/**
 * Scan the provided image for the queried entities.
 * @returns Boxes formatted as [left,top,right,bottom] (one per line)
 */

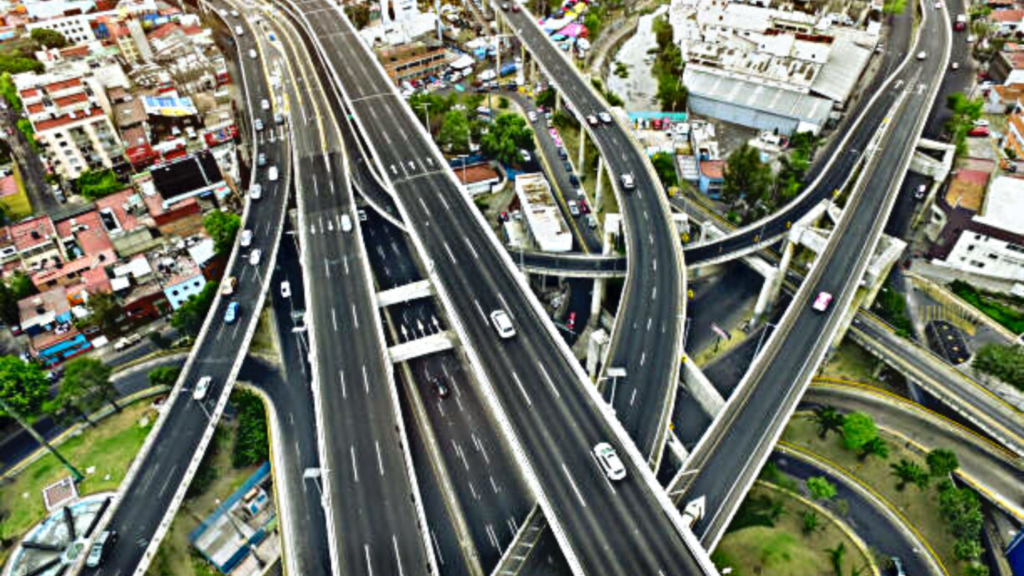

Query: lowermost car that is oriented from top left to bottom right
[880,543,914,576]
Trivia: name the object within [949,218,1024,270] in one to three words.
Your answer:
building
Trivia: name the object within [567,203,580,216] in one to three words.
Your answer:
vehicle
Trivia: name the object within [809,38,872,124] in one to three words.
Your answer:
shed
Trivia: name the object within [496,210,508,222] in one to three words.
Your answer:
vehicle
